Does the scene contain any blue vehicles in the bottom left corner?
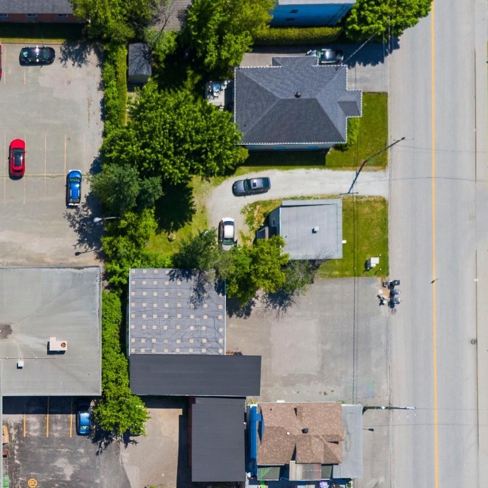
Yes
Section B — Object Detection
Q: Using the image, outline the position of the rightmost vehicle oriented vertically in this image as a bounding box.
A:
[218,217,235,254]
